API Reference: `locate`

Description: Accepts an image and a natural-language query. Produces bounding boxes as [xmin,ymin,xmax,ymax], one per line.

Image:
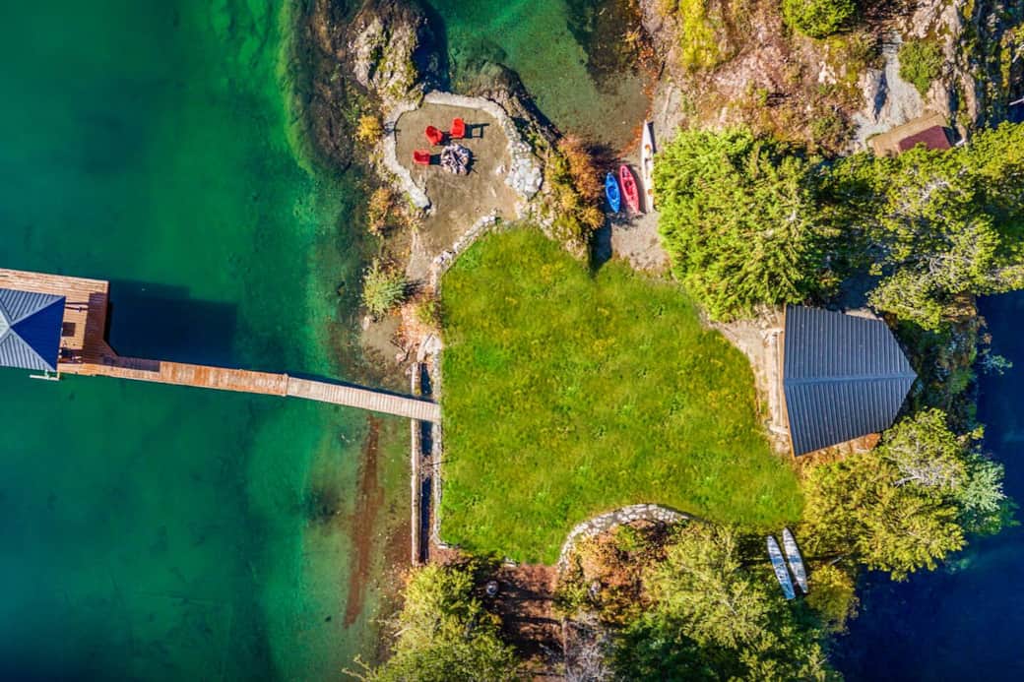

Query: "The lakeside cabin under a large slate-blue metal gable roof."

[778,305,918,457]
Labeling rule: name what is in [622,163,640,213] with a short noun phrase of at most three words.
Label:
boat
